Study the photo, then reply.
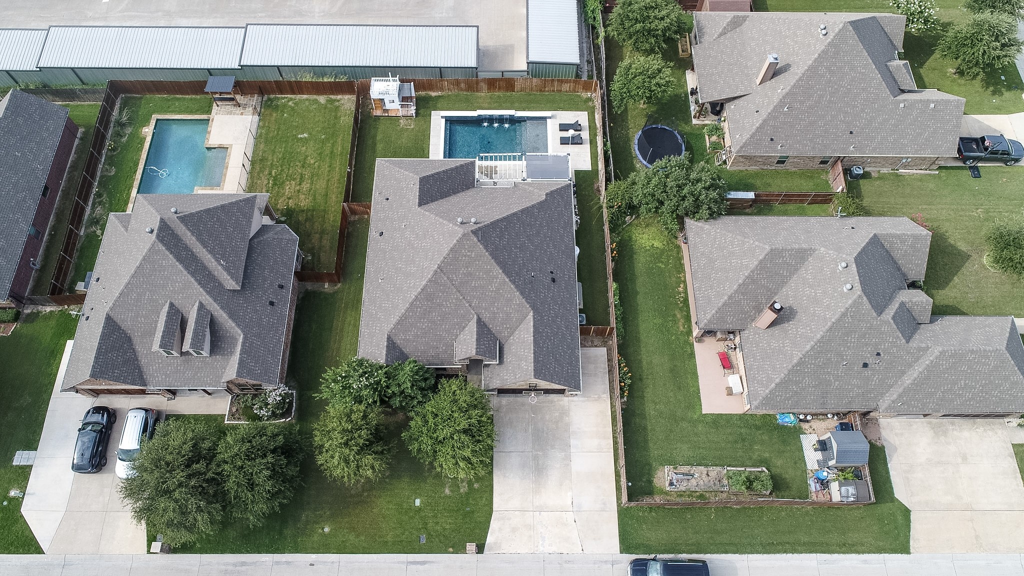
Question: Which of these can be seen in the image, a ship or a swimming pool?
swimming pool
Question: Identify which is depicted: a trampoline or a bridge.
trampoline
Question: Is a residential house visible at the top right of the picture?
Yes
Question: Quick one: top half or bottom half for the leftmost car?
bottom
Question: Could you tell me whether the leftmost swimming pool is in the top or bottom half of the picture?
top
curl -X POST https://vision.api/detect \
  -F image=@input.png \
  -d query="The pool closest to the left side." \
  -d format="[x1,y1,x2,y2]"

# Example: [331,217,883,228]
[129,114,233,211]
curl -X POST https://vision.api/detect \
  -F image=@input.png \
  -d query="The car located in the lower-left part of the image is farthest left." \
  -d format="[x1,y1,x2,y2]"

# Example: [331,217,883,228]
[70,405,118,473]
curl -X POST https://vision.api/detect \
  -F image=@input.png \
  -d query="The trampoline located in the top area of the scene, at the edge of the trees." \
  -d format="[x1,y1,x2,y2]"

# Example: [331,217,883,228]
[633,115,690,165]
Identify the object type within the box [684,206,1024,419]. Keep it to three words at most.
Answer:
house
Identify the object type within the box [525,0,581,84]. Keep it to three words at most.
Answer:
shed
